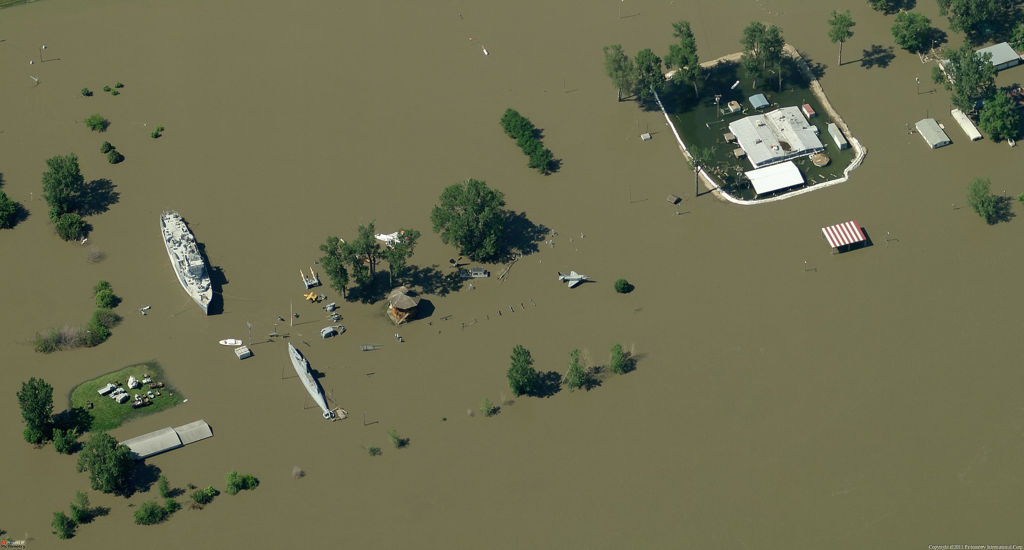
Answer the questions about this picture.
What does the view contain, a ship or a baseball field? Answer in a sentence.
Of the two, only a ship appears.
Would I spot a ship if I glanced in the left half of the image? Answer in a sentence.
Yes, I can see a ship in the left half of the image.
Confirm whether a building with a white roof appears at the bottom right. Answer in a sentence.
No, the scene shows no building with a white roof at the bottom right.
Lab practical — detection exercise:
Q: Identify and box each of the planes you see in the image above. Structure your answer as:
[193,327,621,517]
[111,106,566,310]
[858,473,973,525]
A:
[375,228,410,244]
[558,270,590,285]
[304,292,318,302]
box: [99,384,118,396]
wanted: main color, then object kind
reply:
white vehicle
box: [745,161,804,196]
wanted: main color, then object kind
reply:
white tent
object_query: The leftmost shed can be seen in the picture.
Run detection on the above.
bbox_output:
[123,427,182,464]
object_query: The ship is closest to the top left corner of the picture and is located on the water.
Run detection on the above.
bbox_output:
[162,211,210,313]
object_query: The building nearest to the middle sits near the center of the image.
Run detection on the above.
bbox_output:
[387,286,420,320]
